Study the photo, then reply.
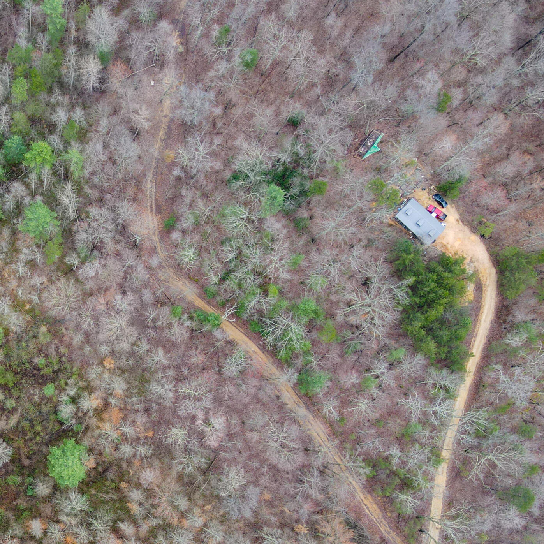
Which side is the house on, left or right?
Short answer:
right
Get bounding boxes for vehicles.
[432,192,447,209]
[425,204,448,221]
